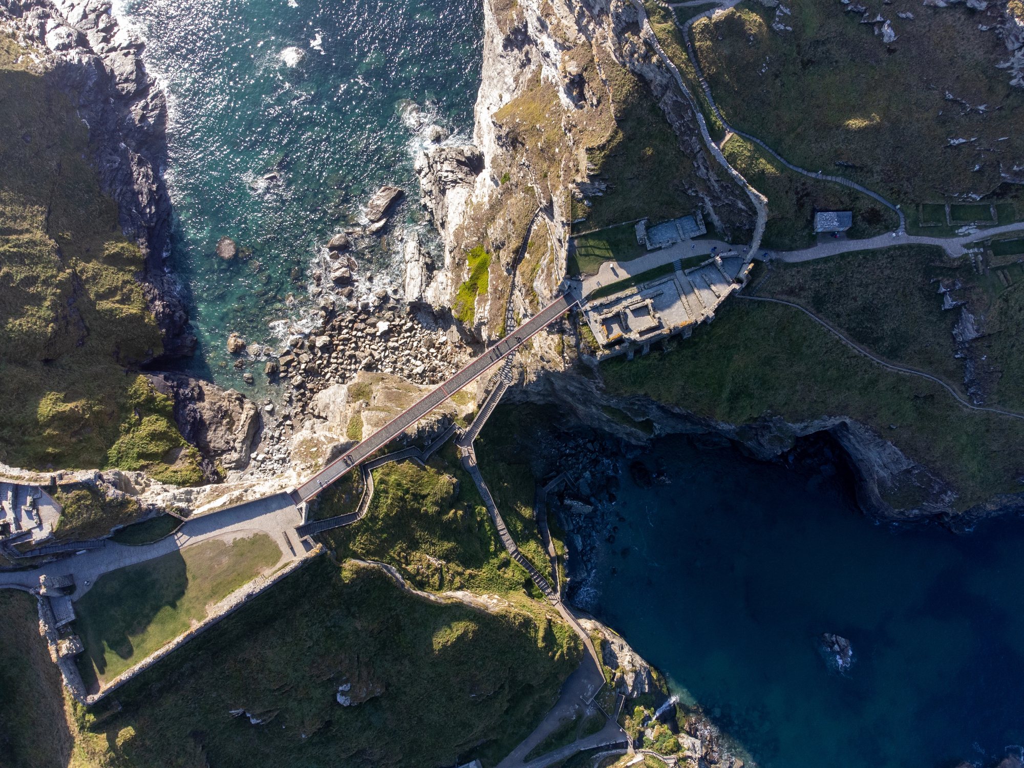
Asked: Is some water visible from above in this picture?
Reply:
Yes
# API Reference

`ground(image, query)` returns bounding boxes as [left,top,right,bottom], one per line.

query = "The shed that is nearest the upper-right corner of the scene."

[813,211,853,231]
